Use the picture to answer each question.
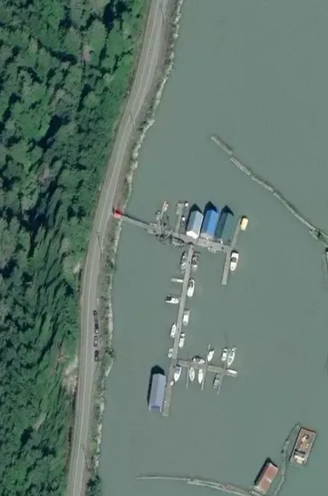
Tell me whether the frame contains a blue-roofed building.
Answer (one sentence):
Yes, the image includes a blue-roofed building.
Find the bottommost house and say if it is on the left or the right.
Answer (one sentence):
The bottommost house sits on the right side.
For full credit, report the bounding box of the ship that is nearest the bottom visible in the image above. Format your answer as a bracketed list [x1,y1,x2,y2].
[290,429,316,466]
